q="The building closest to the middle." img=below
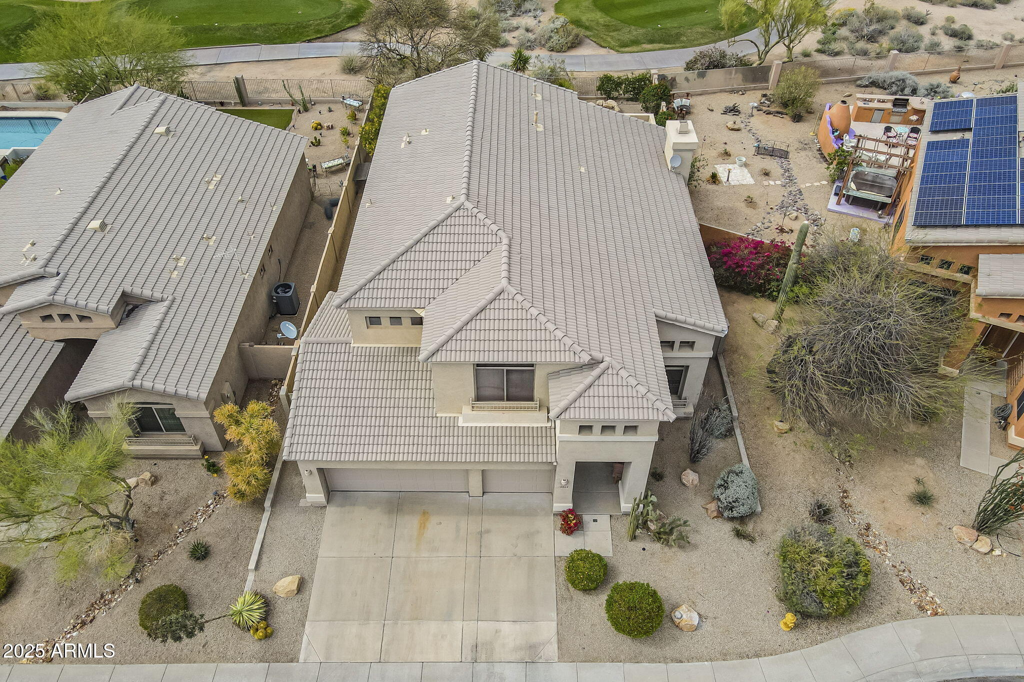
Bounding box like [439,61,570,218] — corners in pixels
[279,56,731,514]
